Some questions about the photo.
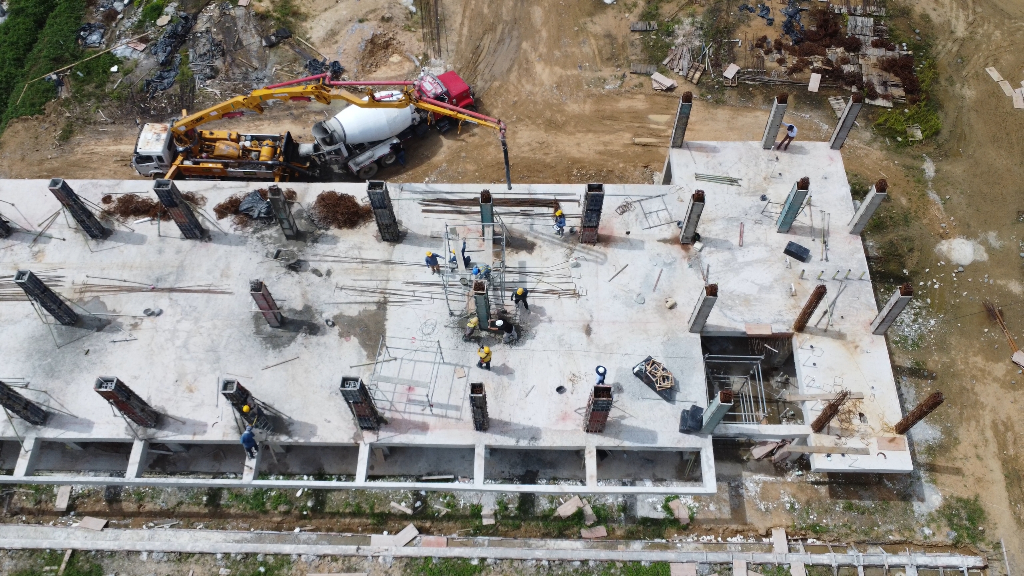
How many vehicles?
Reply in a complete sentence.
There are 2 vehicles in the image.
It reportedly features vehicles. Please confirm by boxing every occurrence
[123,72,513,190]
[296,66,483,182]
